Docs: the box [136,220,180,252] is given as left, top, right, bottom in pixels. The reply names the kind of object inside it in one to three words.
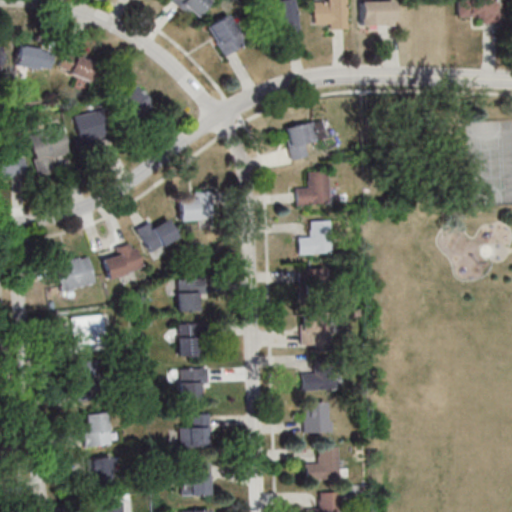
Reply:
house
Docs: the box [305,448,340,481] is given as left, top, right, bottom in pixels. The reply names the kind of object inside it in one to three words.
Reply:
house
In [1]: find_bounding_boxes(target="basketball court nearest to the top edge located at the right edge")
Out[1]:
[466,121,512,203]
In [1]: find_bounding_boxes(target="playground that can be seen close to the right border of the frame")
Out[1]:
[436,222,512,282]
